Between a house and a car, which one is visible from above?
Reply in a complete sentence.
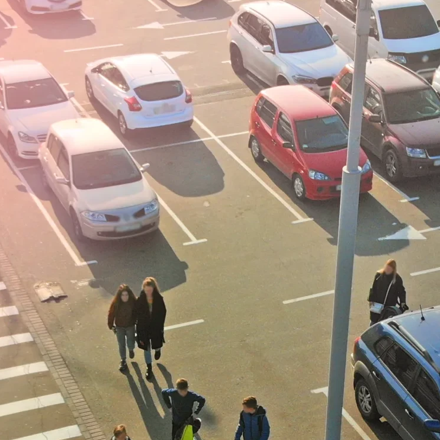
There is a car in the scene.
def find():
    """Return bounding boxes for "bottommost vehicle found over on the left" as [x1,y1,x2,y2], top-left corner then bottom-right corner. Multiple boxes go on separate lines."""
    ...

[35,118,162,244]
